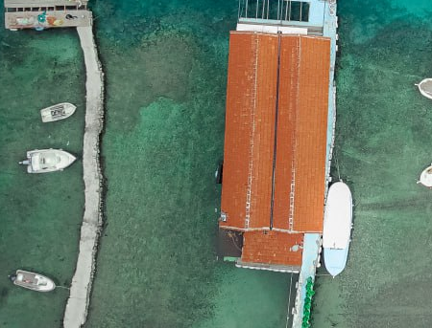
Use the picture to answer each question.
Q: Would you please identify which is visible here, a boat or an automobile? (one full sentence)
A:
Looking from above, you can make out a boat.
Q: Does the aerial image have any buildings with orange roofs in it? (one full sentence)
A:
Yes, the image includes a building with an orange roof.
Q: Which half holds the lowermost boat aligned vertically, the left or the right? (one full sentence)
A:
You can find the lowermost boat aligned vertically on the right side of the picture.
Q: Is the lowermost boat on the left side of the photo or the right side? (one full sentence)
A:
It is on the left.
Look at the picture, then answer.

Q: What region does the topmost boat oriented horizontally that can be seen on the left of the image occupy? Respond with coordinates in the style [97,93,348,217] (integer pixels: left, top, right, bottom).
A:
[41,104,77,121]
